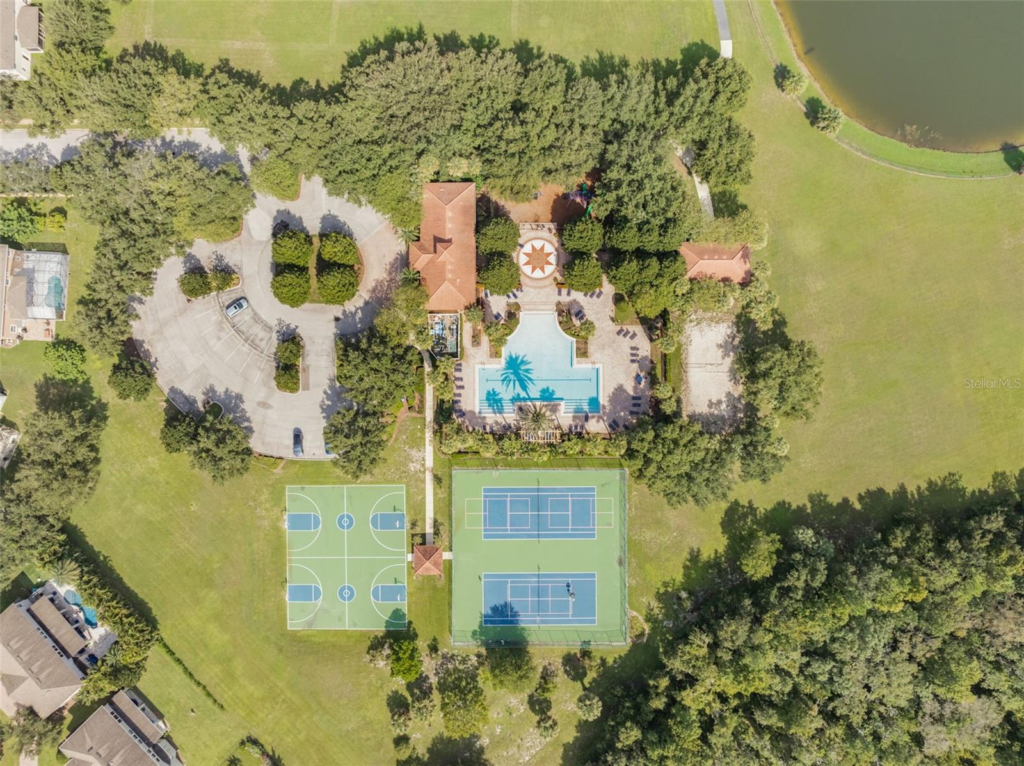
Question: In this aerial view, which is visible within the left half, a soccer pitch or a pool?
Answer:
pool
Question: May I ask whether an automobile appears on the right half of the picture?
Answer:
No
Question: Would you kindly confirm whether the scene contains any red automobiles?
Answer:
No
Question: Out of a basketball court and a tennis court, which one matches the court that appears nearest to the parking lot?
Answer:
basketball court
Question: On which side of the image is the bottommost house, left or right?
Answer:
left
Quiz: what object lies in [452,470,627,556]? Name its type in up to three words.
tennis court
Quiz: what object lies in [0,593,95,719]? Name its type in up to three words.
house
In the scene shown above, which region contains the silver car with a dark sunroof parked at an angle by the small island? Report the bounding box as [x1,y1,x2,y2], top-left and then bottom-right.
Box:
[224,298,247,316]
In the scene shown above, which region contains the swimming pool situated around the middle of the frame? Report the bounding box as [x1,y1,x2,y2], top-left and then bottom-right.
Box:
[477,311,602,416]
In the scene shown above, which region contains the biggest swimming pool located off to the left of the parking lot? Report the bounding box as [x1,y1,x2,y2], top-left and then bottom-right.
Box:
[43,274,65,308]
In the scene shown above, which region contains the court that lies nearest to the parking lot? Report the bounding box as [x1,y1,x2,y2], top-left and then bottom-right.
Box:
[287,485,406,558]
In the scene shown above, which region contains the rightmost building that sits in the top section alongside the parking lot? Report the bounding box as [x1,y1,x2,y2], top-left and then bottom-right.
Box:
[409,182,476,311]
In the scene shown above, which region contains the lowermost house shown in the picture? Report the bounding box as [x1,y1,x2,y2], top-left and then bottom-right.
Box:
[60,690,188,766]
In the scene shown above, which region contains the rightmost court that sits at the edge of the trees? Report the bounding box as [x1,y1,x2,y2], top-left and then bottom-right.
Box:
[681,310,745,429]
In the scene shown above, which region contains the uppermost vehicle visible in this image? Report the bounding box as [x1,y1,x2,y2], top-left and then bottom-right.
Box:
[269,217,290,237]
